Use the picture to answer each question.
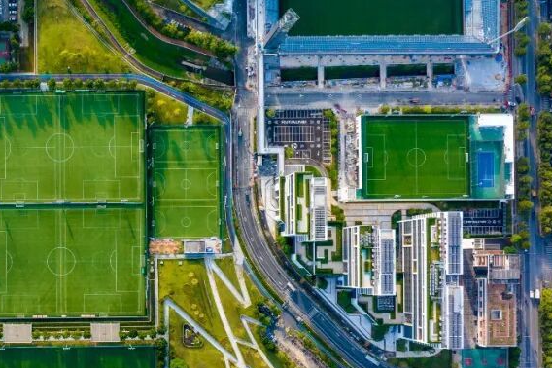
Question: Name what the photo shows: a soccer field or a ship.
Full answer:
It is a soccer field that can be seen here.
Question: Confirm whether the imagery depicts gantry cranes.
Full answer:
No, no gantry crane is visible in the view.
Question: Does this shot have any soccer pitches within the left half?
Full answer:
Yes, you'll find a soccer pitch within the left half.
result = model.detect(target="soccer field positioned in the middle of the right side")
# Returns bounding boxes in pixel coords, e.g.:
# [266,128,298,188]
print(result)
[362,116,469,198]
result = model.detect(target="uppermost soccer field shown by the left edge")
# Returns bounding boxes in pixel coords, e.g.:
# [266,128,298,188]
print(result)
[0,91,143,201]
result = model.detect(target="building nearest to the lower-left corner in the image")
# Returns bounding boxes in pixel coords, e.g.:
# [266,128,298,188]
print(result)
[4,323,32,342]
